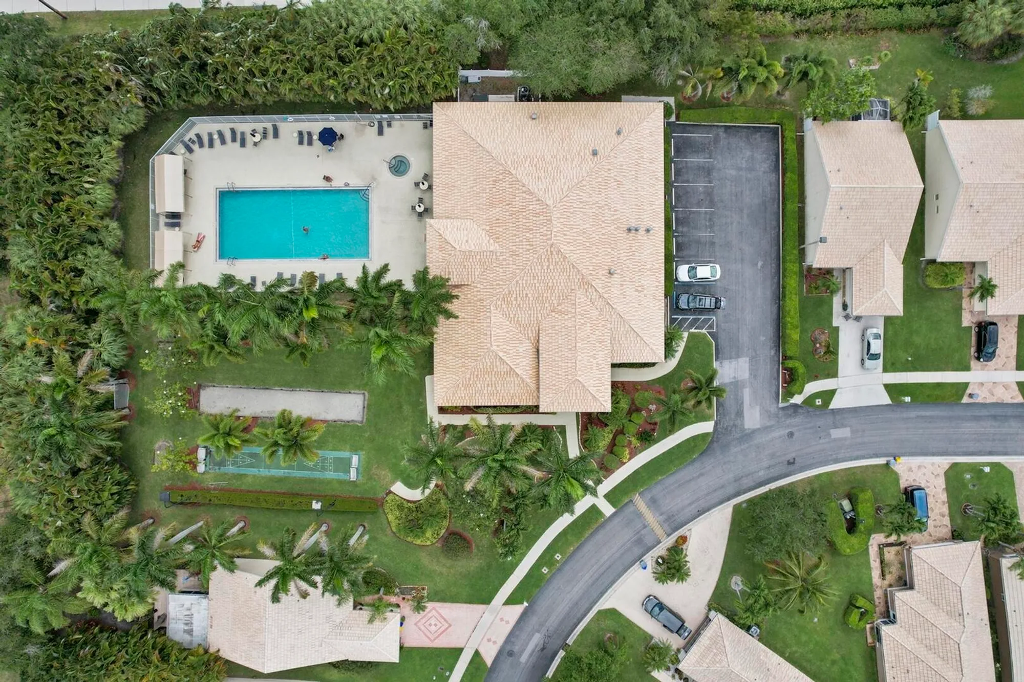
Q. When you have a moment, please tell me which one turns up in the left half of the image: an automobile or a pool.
pool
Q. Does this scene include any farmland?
No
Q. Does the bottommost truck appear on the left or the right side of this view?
right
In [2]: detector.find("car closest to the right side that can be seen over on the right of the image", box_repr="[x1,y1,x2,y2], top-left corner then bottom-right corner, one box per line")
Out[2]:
[973,322,998,362]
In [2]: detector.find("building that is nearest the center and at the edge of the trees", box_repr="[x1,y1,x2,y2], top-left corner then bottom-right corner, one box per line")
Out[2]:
[425,100,665,413]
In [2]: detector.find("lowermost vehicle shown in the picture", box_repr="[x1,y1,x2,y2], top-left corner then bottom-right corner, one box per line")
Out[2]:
[643,594,693,642]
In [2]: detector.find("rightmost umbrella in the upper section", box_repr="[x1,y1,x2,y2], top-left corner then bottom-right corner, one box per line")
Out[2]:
[320,128,337,145]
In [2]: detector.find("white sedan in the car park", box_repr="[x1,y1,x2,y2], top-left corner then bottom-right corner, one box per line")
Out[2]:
[675,263,720,283]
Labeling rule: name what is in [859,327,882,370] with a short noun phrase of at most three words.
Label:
car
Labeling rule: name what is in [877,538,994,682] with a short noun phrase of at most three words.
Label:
house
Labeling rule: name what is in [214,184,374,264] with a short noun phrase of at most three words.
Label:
swimming pool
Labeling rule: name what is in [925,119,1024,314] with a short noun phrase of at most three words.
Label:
house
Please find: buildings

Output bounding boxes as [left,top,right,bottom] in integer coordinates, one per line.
[805,120,926,316]
[877,538,994,682]
[986,549,1024,682]
[678,612,818,682]
[209,560,401,673]
[925,119,1024,314]
[425,100,665,413]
